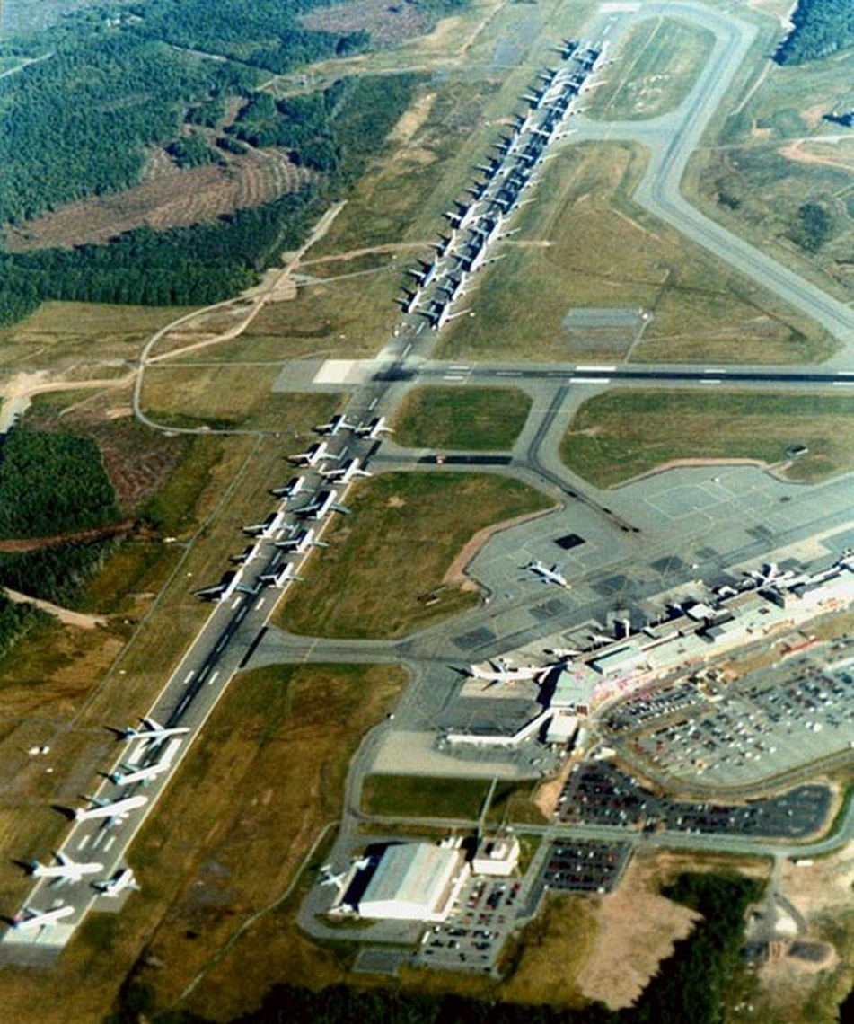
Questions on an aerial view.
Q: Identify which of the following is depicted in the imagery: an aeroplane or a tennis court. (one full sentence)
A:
There is an aeroplane in the scene.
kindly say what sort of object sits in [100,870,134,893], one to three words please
airplane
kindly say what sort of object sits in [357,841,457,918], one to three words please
hangar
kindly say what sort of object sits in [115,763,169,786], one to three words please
airplane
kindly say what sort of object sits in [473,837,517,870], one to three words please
building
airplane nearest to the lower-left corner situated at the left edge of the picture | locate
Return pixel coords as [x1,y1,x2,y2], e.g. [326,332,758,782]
[11,905,74,931]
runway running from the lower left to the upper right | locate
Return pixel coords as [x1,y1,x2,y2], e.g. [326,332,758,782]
[2,3,647,945]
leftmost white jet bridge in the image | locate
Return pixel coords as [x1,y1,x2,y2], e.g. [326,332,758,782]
[536,661,560,674]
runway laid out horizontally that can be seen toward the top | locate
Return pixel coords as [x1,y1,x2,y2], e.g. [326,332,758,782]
[414,361,854,388]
